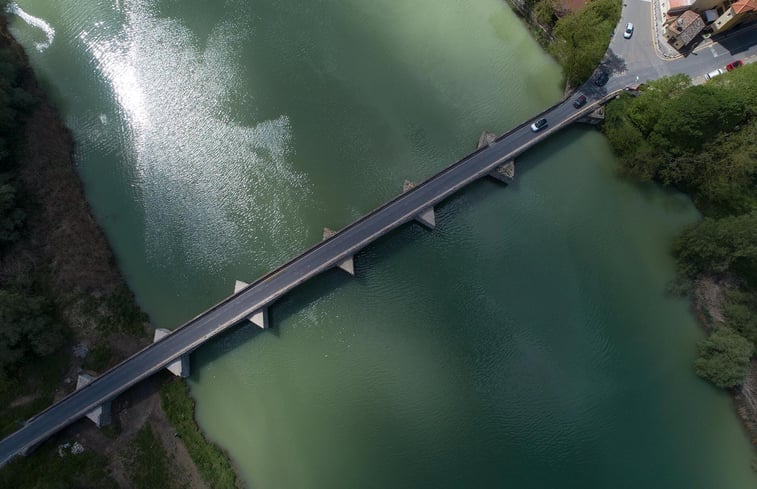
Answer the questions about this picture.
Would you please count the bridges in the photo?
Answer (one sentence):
My tally gives 1 bridge in this photo.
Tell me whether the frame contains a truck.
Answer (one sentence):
No, I can see no truck in this picture.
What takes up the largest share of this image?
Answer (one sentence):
The bulk of the photo consists of water.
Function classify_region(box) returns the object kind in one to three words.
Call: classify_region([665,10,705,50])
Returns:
house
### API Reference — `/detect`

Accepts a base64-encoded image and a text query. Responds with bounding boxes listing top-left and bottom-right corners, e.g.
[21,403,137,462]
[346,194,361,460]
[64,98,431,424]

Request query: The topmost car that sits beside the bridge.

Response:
[594,68,610,85]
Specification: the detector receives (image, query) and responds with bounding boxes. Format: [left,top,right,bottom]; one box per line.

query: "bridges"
[23,78,625,445]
